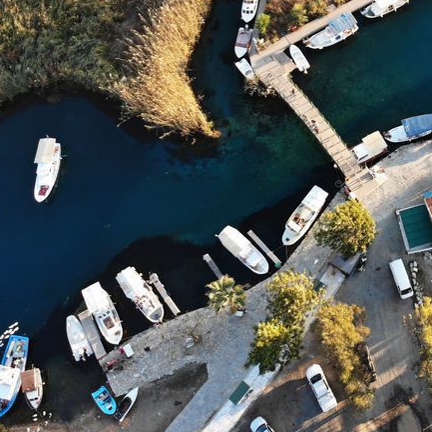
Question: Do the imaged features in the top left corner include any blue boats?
No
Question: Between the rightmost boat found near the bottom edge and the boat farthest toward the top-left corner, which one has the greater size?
the boat farthest toward the top-left corner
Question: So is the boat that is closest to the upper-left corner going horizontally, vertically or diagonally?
vertically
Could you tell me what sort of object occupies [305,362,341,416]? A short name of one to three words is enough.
truck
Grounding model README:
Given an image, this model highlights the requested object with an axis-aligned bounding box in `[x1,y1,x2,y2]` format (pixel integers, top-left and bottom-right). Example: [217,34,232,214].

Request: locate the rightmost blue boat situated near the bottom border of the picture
[91,385,114,417]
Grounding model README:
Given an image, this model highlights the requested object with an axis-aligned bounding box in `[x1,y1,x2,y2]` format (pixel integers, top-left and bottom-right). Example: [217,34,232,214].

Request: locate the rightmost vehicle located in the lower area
[387,256,417,302]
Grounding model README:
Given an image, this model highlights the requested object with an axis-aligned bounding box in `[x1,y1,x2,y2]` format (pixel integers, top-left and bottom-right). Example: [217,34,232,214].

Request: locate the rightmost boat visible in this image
[389,112,432,142]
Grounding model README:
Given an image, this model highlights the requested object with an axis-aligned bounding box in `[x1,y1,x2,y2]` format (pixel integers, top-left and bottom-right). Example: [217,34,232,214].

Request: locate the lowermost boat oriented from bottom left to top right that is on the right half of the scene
[286,180,330,244]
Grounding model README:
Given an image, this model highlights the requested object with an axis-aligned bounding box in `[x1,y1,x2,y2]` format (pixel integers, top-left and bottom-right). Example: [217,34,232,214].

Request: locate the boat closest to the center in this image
[216,223,263,273]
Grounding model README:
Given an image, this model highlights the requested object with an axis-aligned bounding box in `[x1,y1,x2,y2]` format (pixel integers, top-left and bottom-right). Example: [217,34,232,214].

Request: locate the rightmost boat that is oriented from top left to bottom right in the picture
[291,45,312,77]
